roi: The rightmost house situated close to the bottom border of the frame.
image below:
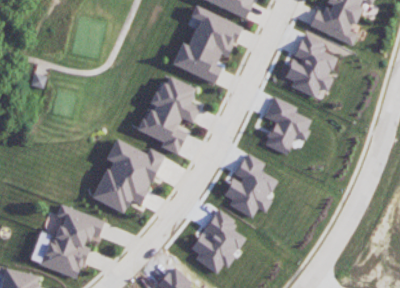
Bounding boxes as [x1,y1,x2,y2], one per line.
[192,209,250,276]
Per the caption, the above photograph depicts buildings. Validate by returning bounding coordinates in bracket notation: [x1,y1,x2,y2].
[224,154,282,220]
[0,268,45,288]
[31,208,106,280]
[91,140,166,214]
[164,267,196,288]
[310,0,376,44]
[192,209,250,276]
[172,6,240,86]
[204,0,256,20]
[284,30,339,98]
[261,98,314,158]
[137,76,202,158]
